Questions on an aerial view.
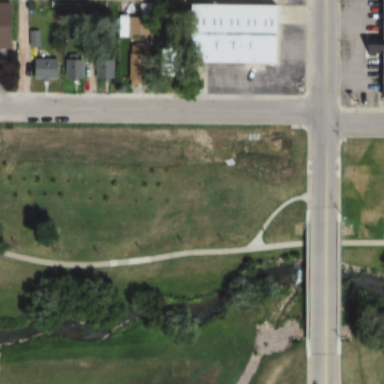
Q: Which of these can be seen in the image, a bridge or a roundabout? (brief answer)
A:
bridge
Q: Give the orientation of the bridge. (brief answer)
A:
vertically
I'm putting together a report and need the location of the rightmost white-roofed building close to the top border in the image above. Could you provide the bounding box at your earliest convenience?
[196,4,278,64]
